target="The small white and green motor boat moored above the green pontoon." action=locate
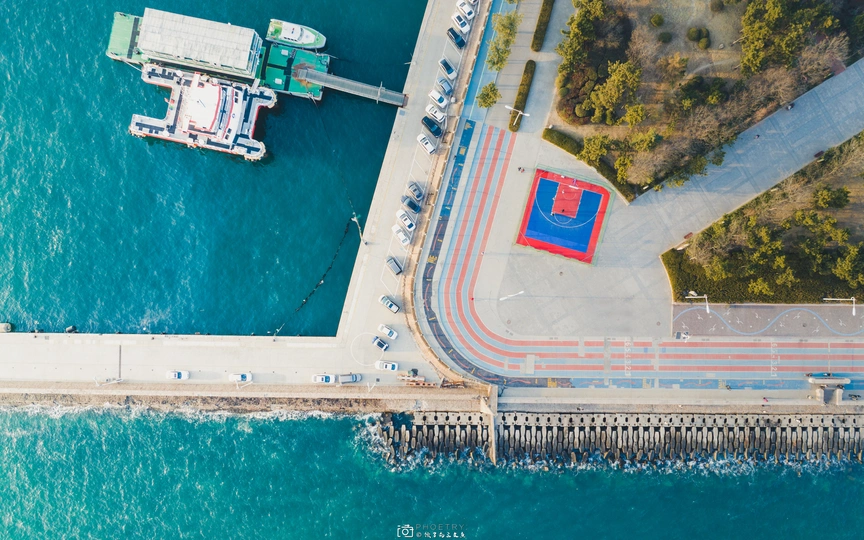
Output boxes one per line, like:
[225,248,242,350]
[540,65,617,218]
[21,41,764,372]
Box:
[266,19,326,50]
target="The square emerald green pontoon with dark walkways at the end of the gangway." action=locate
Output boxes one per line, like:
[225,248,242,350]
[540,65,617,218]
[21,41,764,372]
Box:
[265,43,335,108]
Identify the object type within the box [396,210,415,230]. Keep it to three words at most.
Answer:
car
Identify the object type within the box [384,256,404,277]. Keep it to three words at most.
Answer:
vehicle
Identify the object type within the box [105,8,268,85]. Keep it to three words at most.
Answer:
ship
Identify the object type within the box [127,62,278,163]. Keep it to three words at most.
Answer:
ship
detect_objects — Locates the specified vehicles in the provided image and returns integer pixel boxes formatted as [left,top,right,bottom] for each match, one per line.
[456,0,476,19]
[229,373,251,383]
[377,323,398,340]
[379,295,399,314]
[446,26,466,48]
[451,11,471,32]
[401,194,421,214]
[429,88,449,108]
[391,224,410,245]
[436,75,454,94]
[426,103,445,122]
[422,116,442,137]
[416,133,435,154]
[312,375,334,384]
[438,57,457,79]
[396,210,415,230]
[166,370,189,381]
[338,375,362,384]
[407,180,424,201]
[384,256,404,277]
[370,336,390,353]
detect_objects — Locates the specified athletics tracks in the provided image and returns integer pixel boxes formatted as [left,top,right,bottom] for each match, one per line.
[440,123,864,378]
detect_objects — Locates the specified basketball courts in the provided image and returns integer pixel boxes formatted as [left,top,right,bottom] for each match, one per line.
[516,168,608,265]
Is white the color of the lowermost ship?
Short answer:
Yes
